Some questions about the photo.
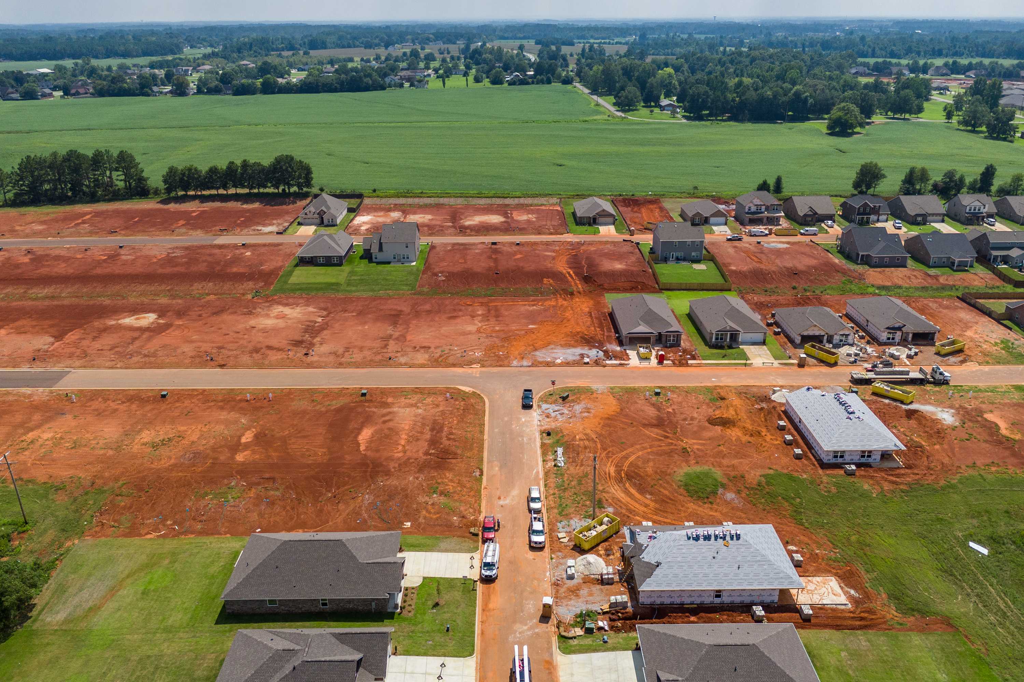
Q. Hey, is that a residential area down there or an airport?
residential area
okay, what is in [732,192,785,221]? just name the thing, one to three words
house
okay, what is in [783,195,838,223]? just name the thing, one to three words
house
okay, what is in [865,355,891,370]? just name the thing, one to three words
work vehicle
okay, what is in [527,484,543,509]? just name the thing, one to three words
car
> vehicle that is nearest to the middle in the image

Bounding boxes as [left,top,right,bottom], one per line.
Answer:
[521,389,534,406]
